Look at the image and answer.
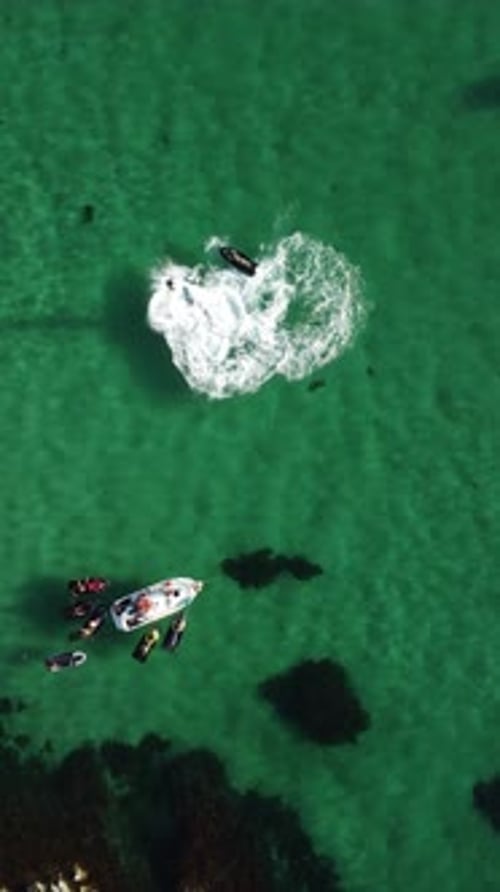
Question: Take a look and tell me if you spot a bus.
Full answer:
No, there appears to be no bus in this shot.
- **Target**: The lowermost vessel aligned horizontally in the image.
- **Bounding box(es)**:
[46,652,87,670]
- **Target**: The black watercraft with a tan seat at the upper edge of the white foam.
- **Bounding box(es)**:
[220,248,258,278]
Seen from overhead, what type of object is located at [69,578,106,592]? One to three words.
vessel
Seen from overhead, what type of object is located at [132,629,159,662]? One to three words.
vessel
